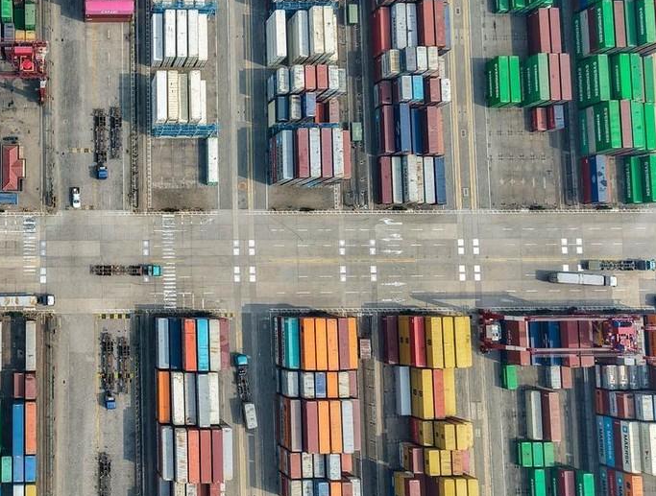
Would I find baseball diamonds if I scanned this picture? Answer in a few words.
No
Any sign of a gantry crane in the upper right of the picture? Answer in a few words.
No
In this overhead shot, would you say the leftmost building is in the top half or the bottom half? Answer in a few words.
top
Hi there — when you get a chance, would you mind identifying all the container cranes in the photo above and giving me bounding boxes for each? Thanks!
[478,310,646,358]
[588,322,656,361]
[0,37,47,108]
